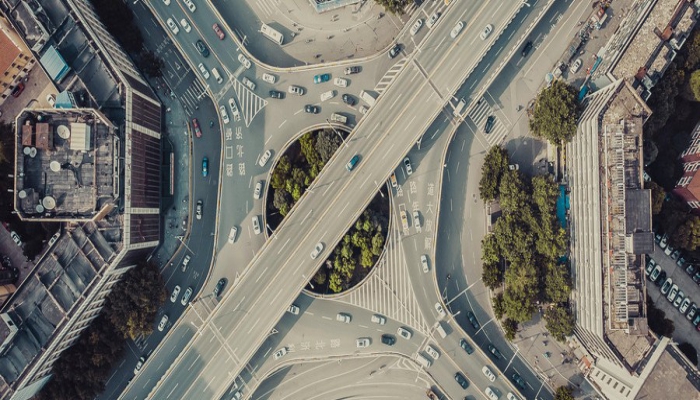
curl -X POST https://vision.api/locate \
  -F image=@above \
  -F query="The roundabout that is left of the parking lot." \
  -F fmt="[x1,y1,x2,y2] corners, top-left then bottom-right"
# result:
[115,0,557,400]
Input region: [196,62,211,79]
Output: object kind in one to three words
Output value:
car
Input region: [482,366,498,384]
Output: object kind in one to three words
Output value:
car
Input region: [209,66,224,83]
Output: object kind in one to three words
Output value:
vehicle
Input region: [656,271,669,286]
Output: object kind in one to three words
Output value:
vehicle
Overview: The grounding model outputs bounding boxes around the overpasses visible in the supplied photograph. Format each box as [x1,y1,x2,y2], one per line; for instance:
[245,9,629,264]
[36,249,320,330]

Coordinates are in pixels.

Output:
[139,0,530,400]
